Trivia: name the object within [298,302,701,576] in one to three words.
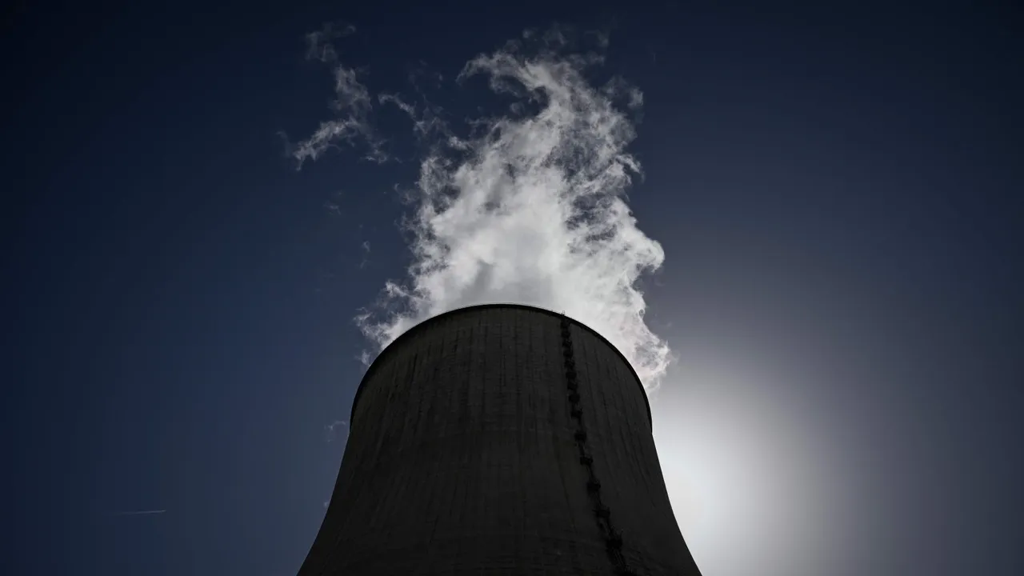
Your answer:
cooling tower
